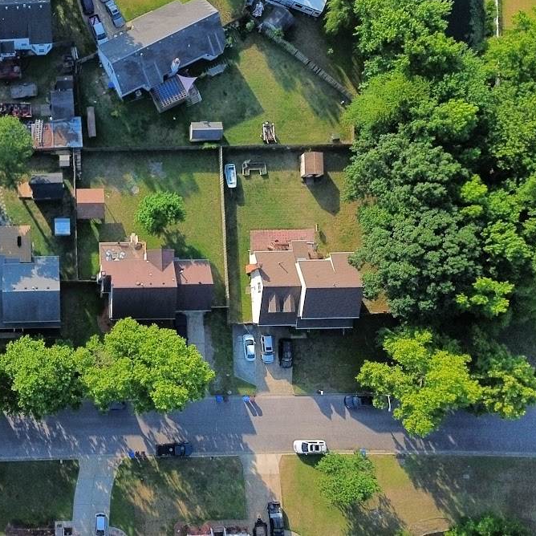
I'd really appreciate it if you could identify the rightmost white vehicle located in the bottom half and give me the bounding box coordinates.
[292,439,329,456]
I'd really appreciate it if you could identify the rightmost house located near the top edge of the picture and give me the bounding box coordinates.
[97,0,231,108]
